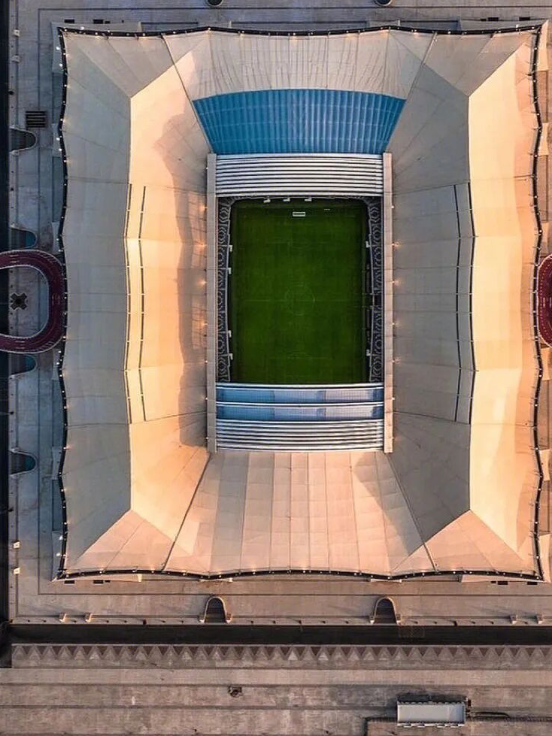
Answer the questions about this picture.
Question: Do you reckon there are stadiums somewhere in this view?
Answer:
Yes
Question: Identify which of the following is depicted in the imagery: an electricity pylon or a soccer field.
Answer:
soccer field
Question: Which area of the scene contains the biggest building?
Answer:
bottom right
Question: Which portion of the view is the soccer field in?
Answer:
center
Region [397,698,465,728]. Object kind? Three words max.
building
